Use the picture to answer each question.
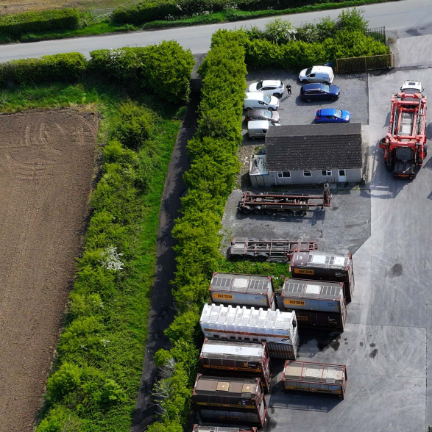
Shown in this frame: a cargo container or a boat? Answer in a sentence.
I can see a cargo container in this picture.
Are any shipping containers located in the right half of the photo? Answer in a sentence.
Yes, a shipping container shows up in the right half of the photo.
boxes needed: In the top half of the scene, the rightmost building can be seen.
[265,124,362,187]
